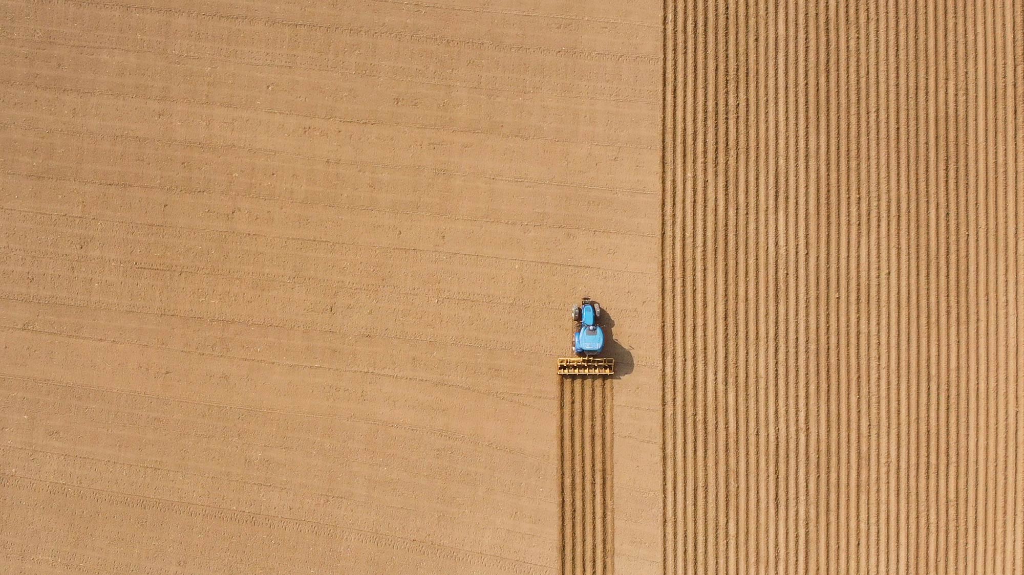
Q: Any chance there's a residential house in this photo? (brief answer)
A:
No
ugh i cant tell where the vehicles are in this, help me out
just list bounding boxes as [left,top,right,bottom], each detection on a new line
[572,297,607,358]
